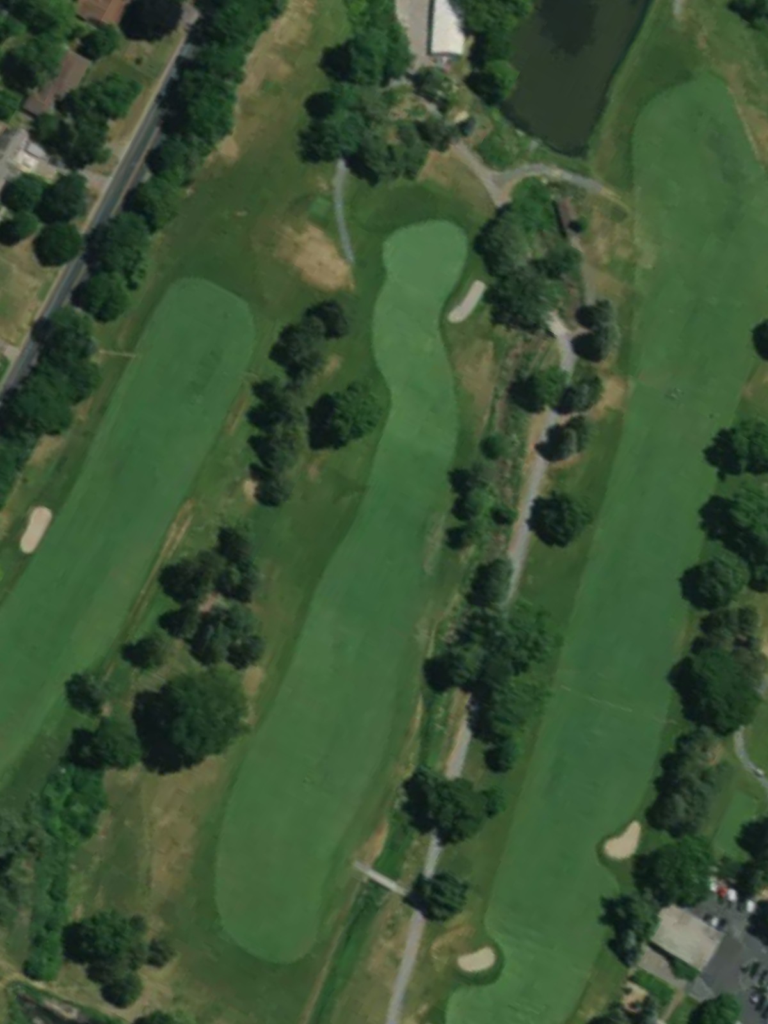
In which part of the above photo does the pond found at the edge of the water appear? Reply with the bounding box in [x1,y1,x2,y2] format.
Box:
[502,0,647,156]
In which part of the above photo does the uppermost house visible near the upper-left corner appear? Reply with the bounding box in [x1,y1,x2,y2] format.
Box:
[77,0,129,28]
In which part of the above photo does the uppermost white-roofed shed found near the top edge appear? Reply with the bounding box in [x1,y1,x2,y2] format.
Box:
[431,0,465,56]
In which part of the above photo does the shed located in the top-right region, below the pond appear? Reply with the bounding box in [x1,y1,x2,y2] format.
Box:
[559,197,580,231]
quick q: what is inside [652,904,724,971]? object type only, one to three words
building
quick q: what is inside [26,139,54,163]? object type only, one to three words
house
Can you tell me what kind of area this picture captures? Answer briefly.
golf course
